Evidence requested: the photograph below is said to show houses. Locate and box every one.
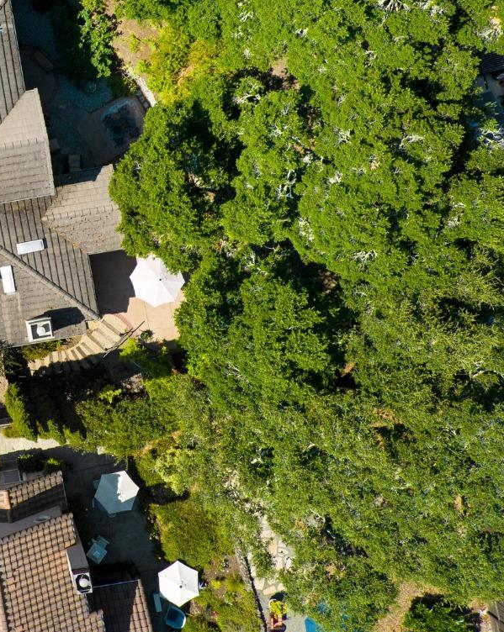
[0,454,153,632]
[0,0,128,351]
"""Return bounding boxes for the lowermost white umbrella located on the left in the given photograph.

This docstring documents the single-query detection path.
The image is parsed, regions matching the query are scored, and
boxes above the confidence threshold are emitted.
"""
[157,555,199,602]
